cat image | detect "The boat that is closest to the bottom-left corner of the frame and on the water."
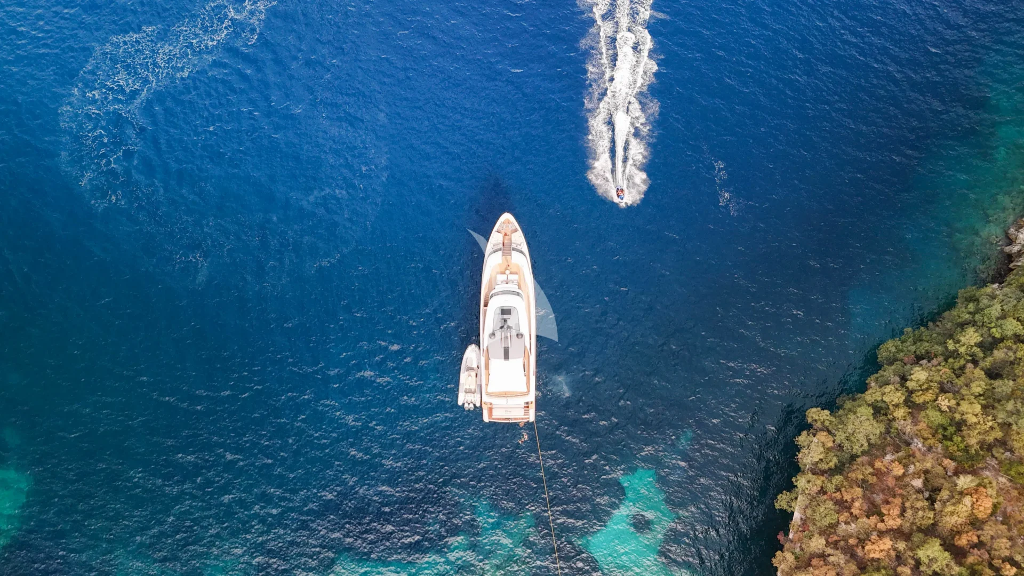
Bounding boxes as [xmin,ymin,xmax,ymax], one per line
[458,344,481,410]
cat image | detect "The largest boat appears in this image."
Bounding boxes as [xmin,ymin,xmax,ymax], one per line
[479,213,537,423]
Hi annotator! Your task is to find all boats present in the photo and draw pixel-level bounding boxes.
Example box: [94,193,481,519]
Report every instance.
[616,183,625,205]
[458,344,481,410]
[479,213,537,423]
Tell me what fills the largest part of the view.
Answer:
water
